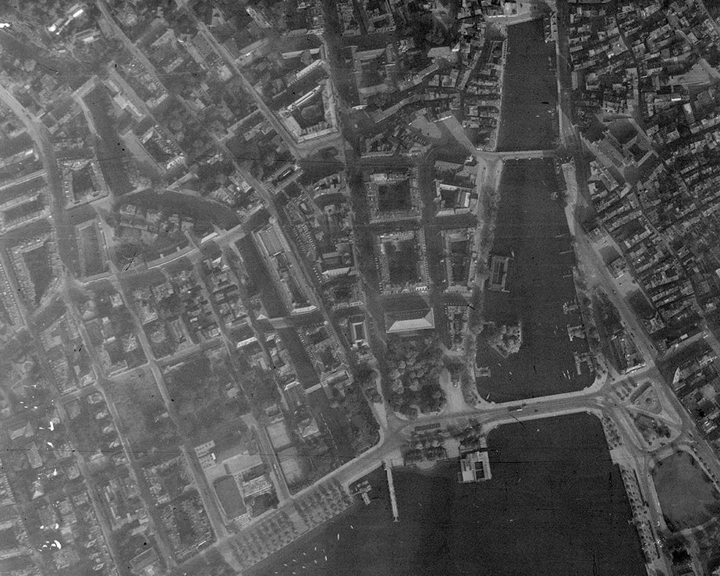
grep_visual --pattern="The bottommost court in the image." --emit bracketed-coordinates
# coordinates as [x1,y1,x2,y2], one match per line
[278,448,302,476]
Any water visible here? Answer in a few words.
Yes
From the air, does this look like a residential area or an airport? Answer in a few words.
residential area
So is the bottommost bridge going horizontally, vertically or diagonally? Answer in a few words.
horizontally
